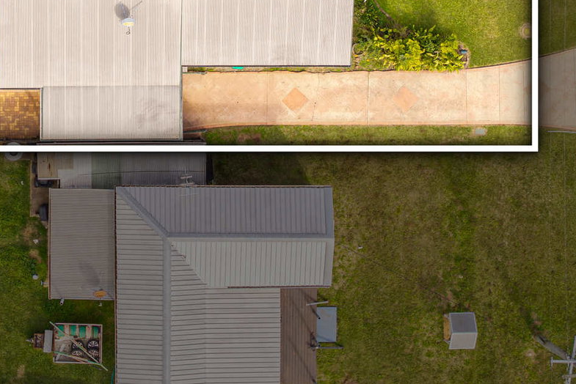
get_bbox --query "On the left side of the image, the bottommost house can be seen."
[47,183,338,384]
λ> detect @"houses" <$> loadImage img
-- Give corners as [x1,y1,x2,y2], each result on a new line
[0,0,355,142]
[47,183,338,384]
